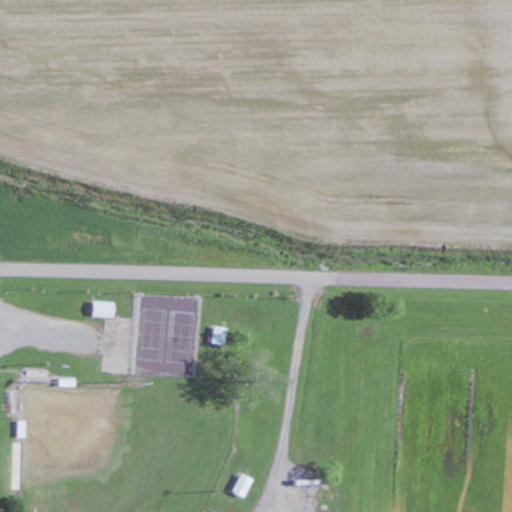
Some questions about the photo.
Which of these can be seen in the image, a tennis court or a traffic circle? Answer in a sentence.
The one in the frame is a tennis court.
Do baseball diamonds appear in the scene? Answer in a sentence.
Yes, there is a baseball diamond in the image.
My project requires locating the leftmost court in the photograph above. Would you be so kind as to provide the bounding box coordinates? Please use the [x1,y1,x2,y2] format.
[136,296,168,376]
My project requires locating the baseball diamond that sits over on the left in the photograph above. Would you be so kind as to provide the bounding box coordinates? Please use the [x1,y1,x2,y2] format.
[12,376,144,504]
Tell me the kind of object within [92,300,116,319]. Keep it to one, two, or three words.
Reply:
building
